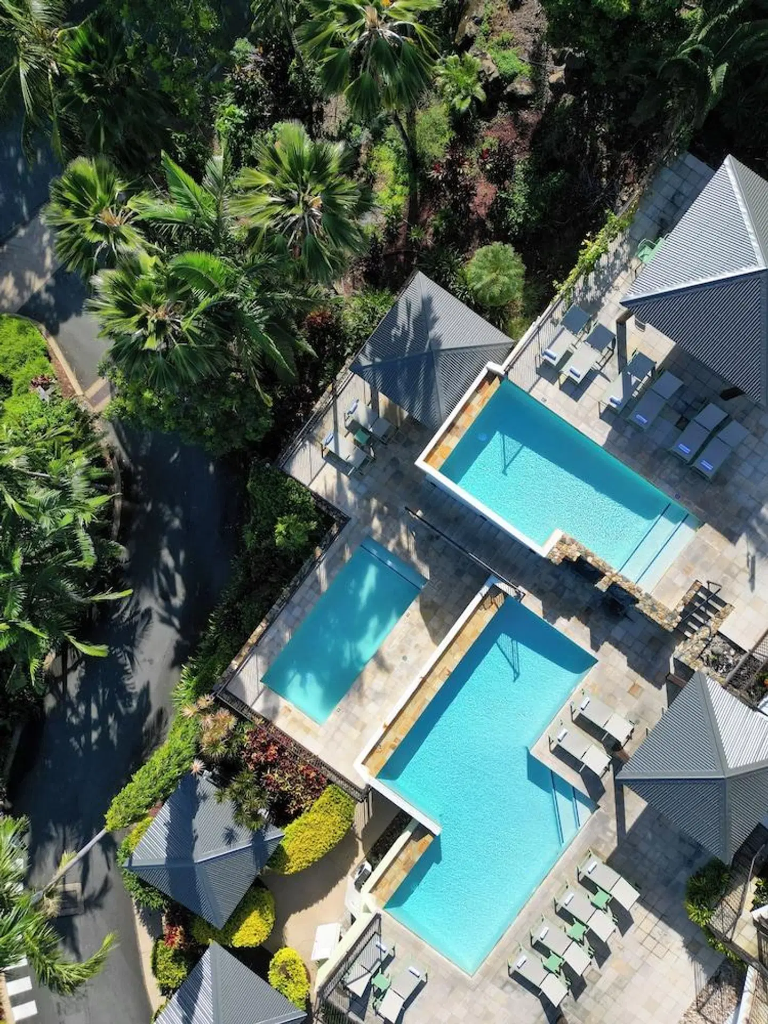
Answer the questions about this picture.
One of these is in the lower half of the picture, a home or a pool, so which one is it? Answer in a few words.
pool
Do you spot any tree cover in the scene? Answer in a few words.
Yes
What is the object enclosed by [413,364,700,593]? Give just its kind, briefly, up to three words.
swimming pool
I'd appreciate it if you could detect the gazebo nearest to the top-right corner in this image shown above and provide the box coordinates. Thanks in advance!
[618,152,768,408]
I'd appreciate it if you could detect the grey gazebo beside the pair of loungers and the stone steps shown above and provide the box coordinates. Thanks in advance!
[609,669,768,864]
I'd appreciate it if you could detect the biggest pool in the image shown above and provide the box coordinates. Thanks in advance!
[354,574,600,978]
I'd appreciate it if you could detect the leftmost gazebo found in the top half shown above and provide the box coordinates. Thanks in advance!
[349,271,510,430]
